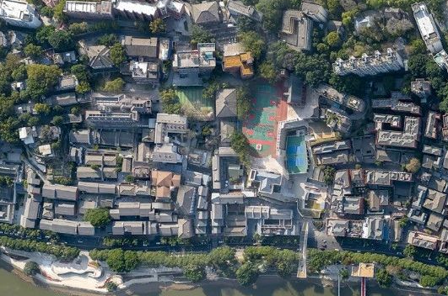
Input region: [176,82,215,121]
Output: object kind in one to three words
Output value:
sports field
